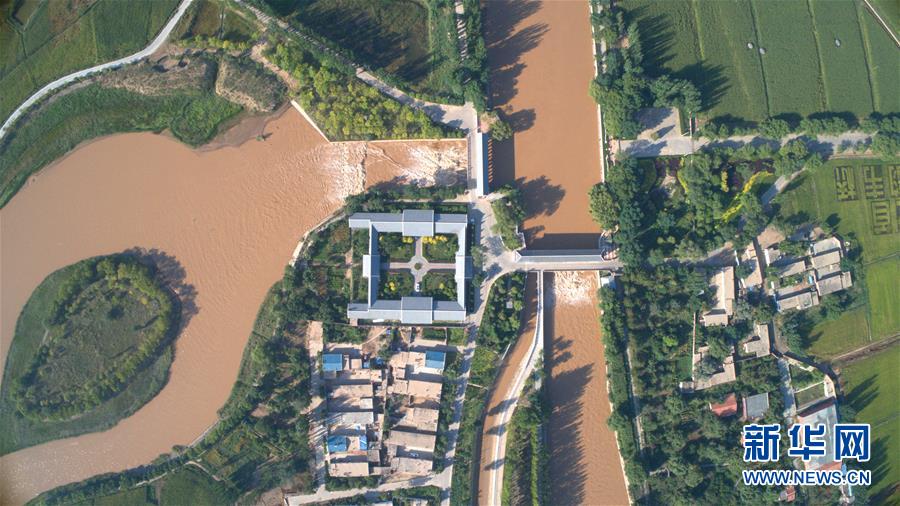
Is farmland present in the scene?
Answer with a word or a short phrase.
Yes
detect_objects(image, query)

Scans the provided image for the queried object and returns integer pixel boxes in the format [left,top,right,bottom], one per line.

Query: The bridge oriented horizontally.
[515,246,605,271]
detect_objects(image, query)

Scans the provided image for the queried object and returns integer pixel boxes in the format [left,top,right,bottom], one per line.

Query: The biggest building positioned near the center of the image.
[348,210,473,323]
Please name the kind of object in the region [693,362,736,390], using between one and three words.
house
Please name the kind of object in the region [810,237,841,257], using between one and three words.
house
